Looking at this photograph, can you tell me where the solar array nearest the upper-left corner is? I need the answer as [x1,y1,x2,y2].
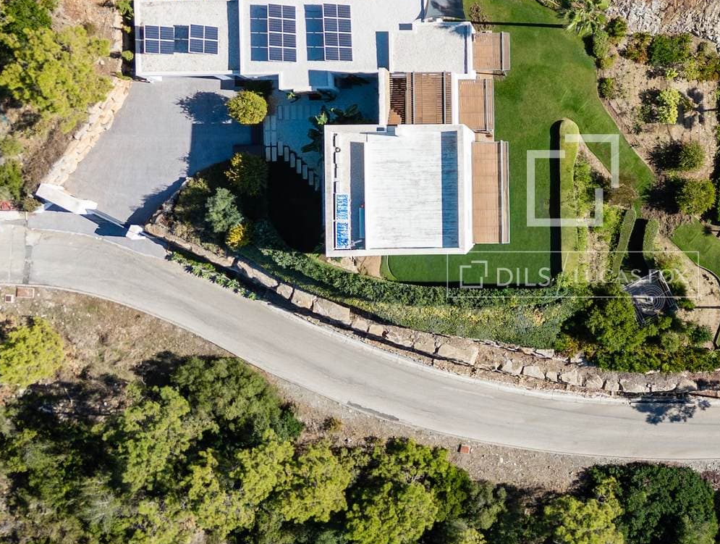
[145,26,175,57]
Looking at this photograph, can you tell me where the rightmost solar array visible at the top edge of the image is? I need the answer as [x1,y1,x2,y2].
[324,3,352,63]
